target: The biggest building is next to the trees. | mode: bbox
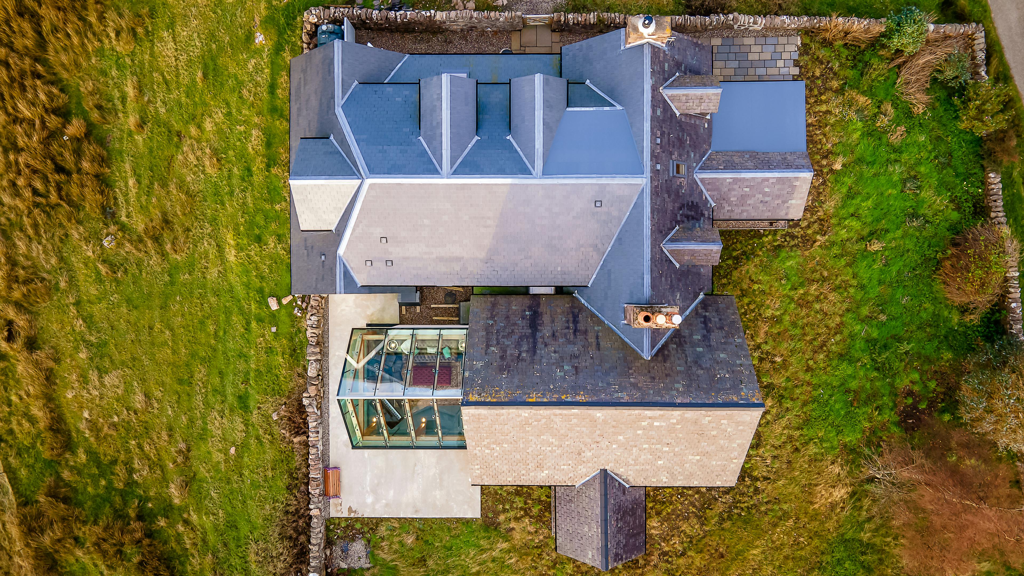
[288,16,815,572]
